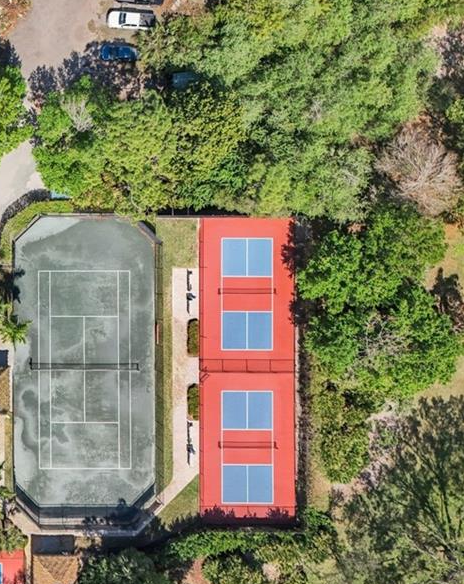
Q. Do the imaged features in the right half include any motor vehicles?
No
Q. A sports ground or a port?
sports ground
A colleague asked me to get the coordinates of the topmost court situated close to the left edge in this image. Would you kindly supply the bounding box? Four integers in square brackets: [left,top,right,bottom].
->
[14,216,155,522]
